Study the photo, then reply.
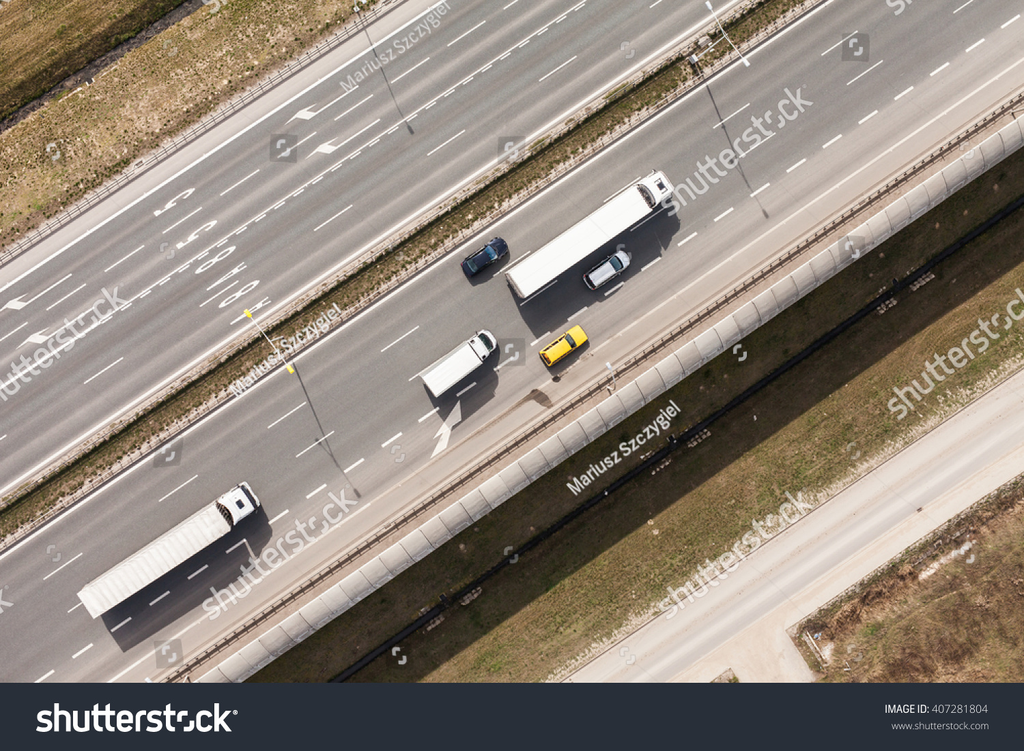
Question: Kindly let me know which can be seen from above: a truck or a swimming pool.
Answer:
truck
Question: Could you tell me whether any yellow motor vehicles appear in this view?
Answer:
Yes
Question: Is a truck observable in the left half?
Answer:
Yes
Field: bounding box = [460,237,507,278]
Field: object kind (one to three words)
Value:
car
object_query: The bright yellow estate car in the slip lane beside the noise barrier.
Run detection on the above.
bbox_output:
[538,325,588,367]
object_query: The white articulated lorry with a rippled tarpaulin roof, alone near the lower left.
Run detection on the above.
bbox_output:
[77,480,266,619]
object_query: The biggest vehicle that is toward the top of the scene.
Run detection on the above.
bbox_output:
[503,166,676,298]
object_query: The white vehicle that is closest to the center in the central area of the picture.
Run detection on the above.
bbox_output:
[422,330,499,397]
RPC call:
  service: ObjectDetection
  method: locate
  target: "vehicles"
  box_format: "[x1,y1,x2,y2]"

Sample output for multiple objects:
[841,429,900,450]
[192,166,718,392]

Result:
[77,480,266,619]
[503,166,676,298]
[422,330,499,397]
[538,325,588,367]
[460,237,507,278]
